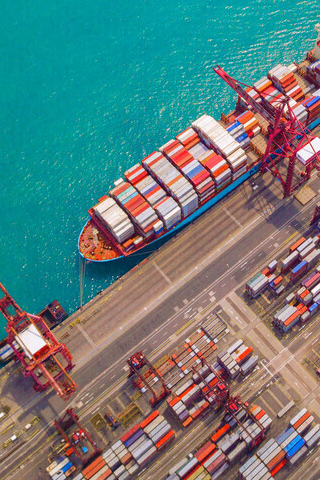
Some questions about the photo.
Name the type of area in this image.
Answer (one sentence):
What you see here is a port.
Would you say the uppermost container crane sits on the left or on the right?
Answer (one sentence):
The uppermost container crane sits on the right side.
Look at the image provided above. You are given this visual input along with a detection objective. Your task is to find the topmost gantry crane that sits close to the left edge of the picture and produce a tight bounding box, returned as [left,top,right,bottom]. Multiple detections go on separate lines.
[0,279,79,397]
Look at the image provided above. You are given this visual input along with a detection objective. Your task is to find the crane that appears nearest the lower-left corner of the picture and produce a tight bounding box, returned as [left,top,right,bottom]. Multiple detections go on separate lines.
[52,408,104,468]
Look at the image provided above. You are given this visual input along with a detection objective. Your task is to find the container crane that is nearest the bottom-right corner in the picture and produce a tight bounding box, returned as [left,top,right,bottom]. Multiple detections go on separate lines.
[222,390,270,449]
